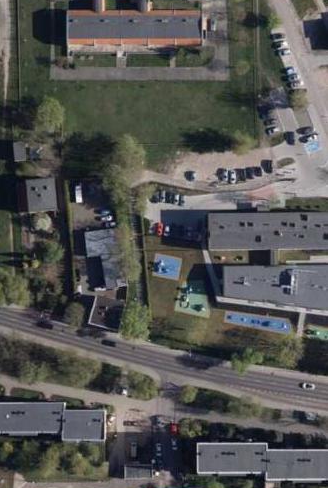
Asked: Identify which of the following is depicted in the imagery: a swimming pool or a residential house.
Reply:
residential house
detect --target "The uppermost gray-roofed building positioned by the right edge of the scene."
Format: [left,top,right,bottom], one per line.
[209,202,328,250]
